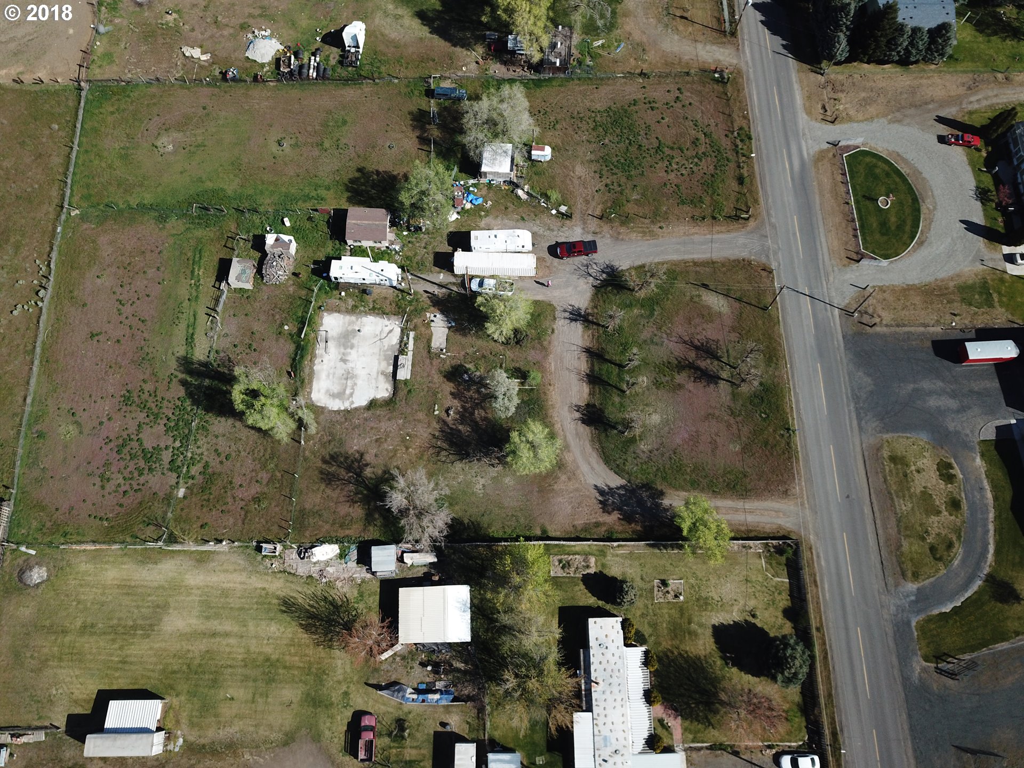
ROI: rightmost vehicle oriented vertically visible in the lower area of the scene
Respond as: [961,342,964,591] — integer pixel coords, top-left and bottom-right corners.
[356,713,376,765]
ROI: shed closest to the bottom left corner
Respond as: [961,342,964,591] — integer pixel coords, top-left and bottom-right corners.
[104,700,168,732]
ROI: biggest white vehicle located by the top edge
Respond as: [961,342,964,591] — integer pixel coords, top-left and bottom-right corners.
[342,24,362,71]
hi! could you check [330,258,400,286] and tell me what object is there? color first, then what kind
white trailer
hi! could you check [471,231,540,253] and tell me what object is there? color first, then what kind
white trailer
